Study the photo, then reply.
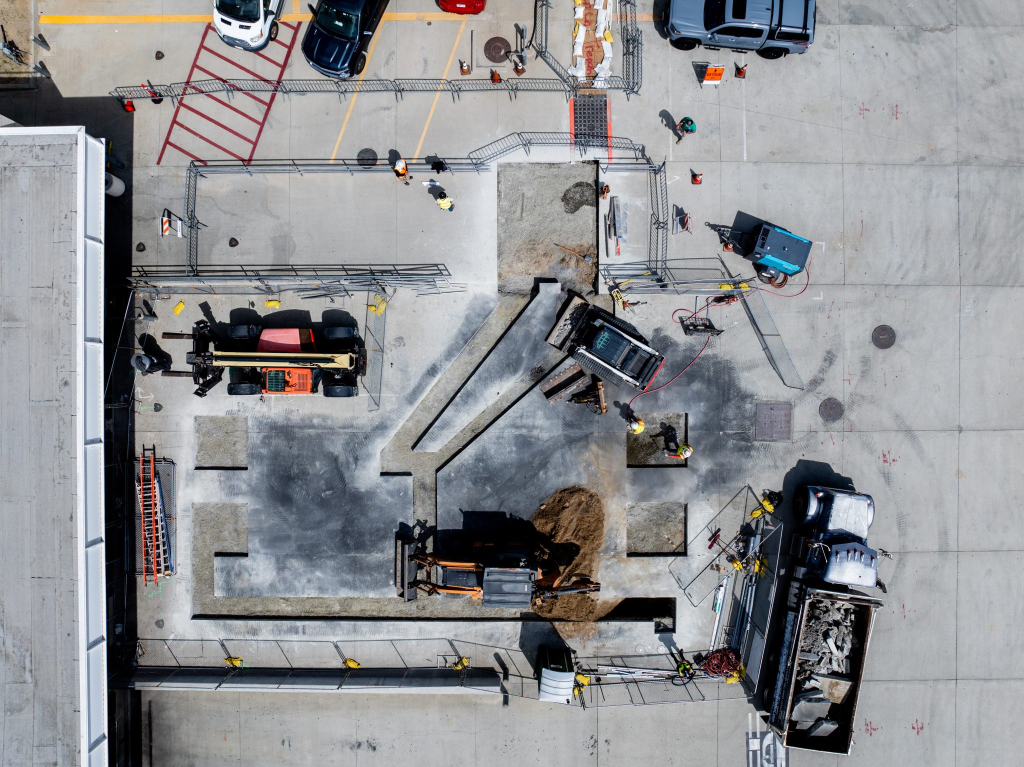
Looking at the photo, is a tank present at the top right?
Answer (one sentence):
No, there's no tank to be seen at the top right.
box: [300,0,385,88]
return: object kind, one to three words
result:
truck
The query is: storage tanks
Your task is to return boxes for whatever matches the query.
[107,166,136,198]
